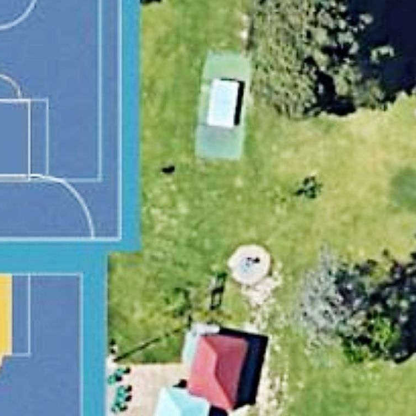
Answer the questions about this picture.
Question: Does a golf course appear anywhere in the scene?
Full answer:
No, this view has no golf course in it.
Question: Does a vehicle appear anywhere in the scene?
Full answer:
No, no vehicle is visible in the view.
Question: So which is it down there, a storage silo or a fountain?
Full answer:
There is a fountain in the scene.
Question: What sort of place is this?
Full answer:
This looks like a sports ground.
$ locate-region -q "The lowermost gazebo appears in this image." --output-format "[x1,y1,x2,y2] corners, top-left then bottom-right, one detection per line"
[155,389,209,416]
